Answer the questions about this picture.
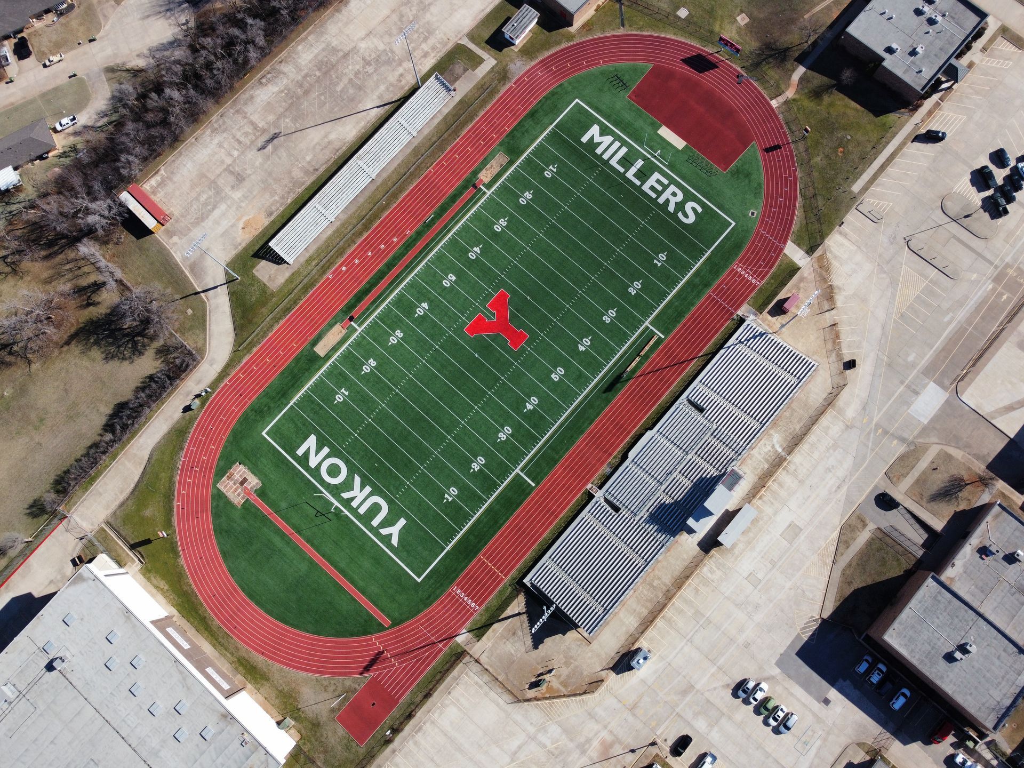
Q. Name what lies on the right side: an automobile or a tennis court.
automobile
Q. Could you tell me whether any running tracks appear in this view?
Yes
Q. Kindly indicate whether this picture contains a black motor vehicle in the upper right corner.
Yes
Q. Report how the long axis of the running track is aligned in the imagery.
diagonally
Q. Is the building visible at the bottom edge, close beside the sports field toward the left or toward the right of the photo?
left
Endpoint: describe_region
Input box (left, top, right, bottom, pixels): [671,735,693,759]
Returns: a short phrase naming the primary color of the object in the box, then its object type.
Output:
black car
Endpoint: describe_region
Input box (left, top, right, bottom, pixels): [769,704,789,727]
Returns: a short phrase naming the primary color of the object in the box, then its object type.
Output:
white car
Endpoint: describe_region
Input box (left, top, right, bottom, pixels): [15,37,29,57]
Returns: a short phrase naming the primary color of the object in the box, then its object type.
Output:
black car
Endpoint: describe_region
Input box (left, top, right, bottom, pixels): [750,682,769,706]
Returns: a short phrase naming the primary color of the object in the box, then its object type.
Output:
white car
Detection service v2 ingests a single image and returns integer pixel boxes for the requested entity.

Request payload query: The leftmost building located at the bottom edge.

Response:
[0,564,297,768]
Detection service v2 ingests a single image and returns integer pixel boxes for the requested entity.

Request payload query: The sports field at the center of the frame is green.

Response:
[211,63,764,637]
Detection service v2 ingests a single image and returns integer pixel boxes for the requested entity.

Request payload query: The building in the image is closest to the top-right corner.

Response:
[836,0,988,105]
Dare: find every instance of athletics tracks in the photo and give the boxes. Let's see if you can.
[175,33,799,747]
